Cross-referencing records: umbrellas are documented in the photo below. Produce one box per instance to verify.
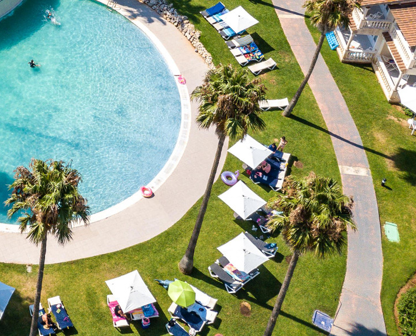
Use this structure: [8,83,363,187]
[0,279,17,321]
[218,179,265,225]
[219,10,257,47]
[164,279,200,313]
[218,232,267,281]
[228,135,272,177]
[104,267,155,318]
